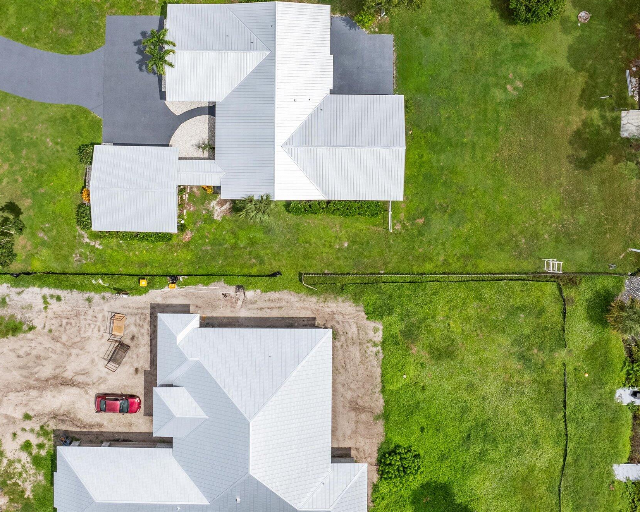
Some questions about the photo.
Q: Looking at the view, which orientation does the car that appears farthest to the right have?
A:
from side to side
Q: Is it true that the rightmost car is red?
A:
Yes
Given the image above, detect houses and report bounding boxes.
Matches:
[166,0,406,203]
[57,312,369,512]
